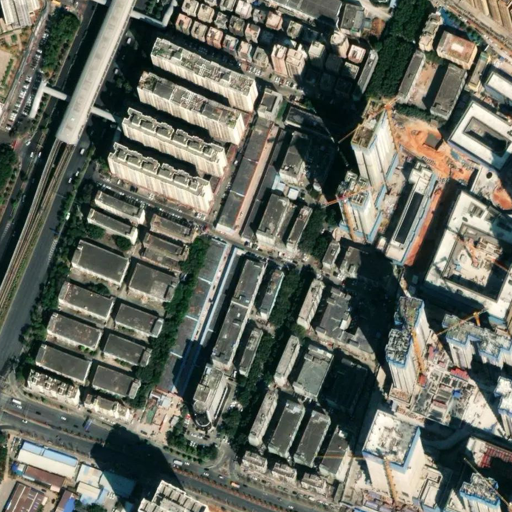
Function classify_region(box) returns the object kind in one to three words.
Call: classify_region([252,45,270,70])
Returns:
house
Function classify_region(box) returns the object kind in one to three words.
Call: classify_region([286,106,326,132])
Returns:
shed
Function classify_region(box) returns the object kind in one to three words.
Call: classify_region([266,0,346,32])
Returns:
shed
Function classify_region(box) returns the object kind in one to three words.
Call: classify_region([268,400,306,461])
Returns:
building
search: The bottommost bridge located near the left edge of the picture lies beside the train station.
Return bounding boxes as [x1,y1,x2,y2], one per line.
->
[0,140,75,314]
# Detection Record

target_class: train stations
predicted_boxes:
[56,0,140,146]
